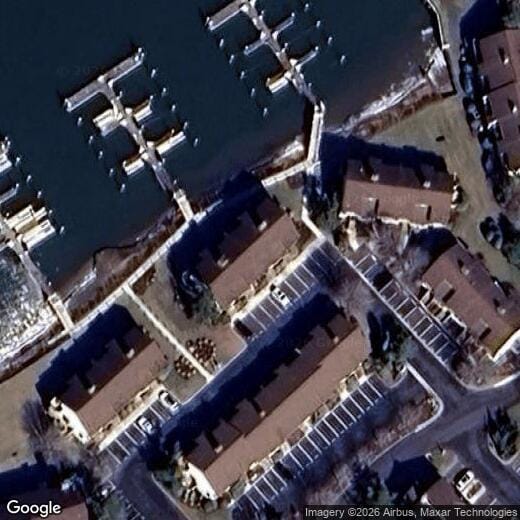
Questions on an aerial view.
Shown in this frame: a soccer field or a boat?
boat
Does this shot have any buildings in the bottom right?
Yes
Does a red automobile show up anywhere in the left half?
No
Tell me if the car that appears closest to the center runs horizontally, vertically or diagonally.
diagonally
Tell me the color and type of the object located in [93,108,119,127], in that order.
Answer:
white boat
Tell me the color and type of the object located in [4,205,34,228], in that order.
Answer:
white boat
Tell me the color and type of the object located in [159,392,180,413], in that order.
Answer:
white car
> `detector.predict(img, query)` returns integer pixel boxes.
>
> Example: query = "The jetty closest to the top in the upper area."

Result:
[208,0,318,110]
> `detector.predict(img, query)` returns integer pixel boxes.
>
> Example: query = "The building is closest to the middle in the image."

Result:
[196,205,305,319]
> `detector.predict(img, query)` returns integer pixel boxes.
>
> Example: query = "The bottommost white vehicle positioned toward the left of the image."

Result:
[139,416,158,436]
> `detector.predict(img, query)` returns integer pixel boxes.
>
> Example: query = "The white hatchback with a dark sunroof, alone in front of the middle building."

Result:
[272,285,292,306]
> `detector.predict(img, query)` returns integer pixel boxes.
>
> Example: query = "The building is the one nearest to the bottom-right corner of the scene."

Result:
[413,474,469,520]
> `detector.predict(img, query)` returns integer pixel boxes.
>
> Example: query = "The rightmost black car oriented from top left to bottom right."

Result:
[275,461,292,479]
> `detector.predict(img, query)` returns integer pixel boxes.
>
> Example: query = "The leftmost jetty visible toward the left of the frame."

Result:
[0,191,54,301]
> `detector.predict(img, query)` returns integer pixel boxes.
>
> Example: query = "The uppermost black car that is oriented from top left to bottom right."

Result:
[235,318,254,338]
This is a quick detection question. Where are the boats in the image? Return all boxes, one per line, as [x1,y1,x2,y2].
[20,222,54,248]
[0,156,12,172]
[421,29,433,37]
[131,102,151,117]
[93,108,119,127]
[268,73,287,87]
[124,154,144,169]
[4,205,34,228]
[32,206,49,220]
[153,136,177,152]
